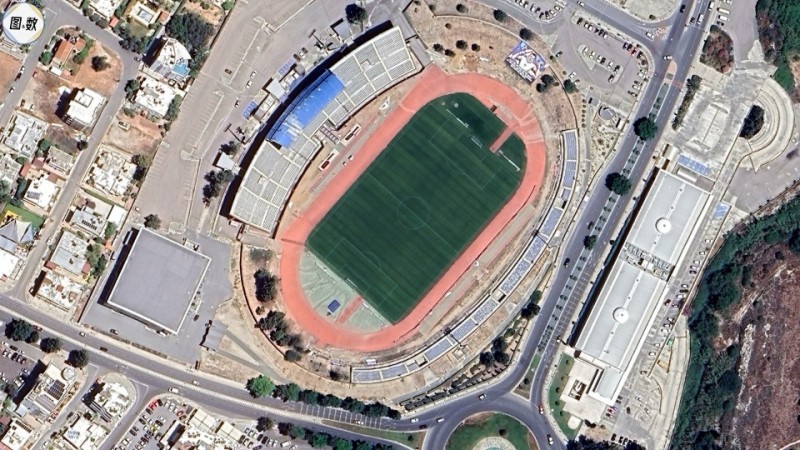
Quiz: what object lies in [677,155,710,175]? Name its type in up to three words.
solar array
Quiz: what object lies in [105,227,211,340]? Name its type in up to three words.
building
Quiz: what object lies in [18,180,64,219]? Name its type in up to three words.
house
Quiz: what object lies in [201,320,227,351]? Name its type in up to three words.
shed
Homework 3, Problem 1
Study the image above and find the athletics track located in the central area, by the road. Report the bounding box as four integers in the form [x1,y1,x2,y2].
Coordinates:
[277,62,546,351]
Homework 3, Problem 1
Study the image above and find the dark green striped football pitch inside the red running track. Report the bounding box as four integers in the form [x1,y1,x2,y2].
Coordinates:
[309,92,526,323]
